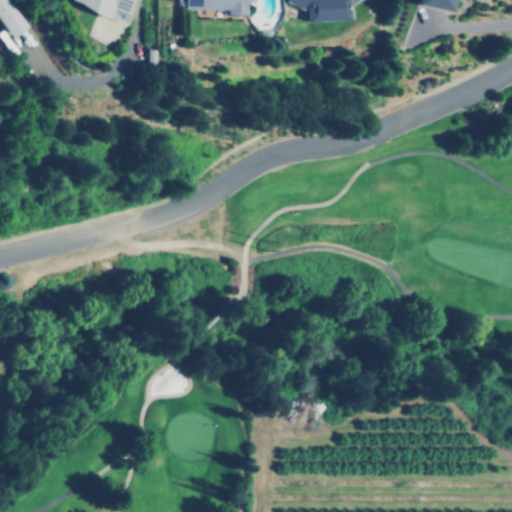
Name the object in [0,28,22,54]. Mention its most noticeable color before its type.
white camper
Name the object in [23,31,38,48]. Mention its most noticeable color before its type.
white vehicle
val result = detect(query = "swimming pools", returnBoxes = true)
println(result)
[254,0,281,36]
